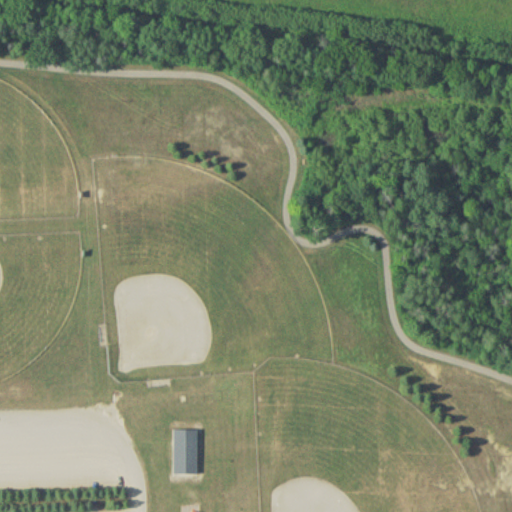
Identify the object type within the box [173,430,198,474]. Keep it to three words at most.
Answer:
building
